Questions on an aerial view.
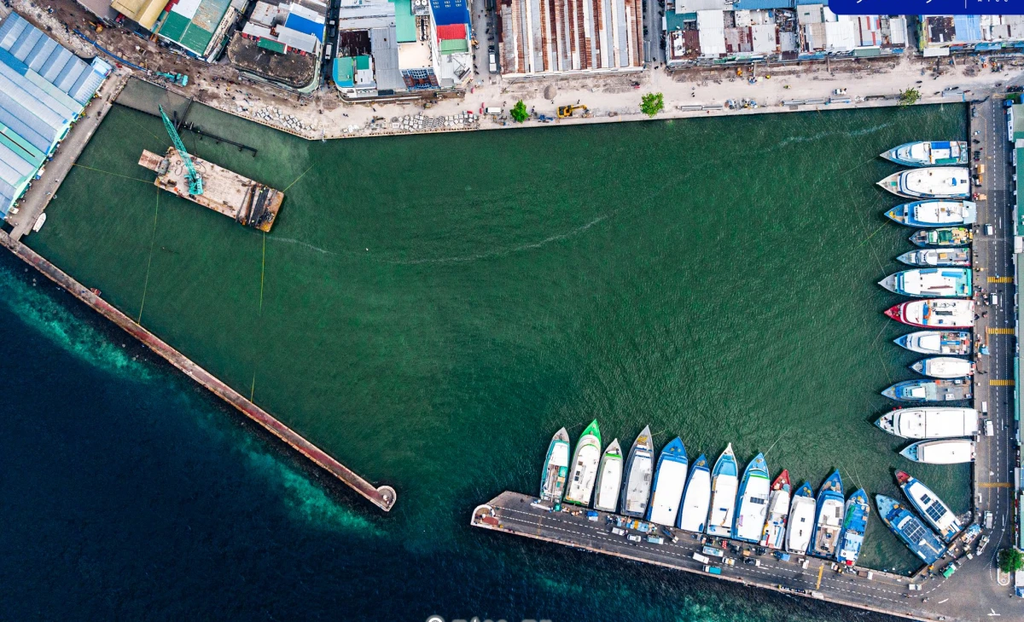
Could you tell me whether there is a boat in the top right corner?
Yes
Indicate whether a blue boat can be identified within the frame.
Yes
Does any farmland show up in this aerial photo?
No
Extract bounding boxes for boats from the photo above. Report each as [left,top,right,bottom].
[907,357,975,378]
[733,453,768,542]
[879,141,969,166]
[884,299,975,328]
[892,470,963,543]
[564,419,600,508]
[873,406,979,439]
[707,443,737,538]
[874,495,946,565]
[541,428,569,502]
[807,470,843,559]
[880,379,972,402]
[760,470,790,549]
[594,439,621,512]
[883,200,977,227]
[897,439,976,464]
[907,228,973,246]
[892,330,971,354]
[678,455,710,532]
[834,488,867,566]
[878,267,973,297]
[875,168,971,198]
[622,425,654,517]
[648,437,686,526]
[32,213,45,232]
[897,248,972,267]
[784,482,814,555]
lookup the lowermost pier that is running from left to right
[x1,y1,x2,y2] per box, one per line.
[471,490,945,622]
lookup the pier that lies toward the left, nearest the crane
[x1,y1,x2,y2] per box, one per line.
[181,121,258,157]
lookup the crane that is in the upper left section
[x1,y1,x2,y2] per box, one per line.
[157,104,207,201]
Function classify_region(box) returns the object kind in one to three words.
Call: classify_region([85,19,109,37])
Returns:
work vehicle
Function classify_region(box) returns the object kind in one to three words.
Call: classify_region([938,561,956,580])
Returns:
vehicle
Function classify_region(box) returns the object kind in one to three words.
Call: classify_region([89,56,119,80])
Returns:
building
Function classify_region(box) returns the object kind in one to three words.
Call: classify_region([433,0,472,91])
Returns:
building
